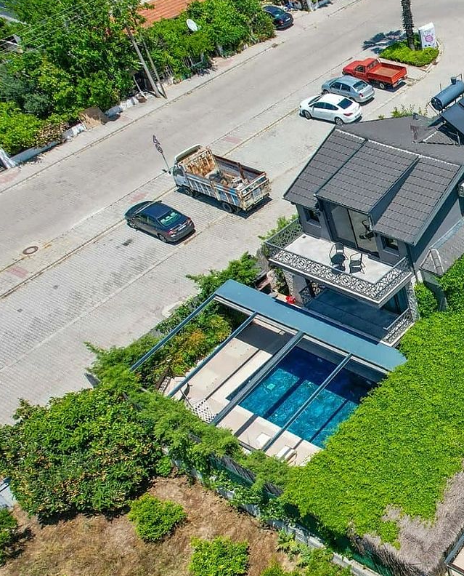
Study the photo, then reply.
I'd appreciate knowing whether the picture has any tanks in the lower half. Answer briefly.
No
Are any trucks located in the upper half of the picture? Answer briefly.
Yes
